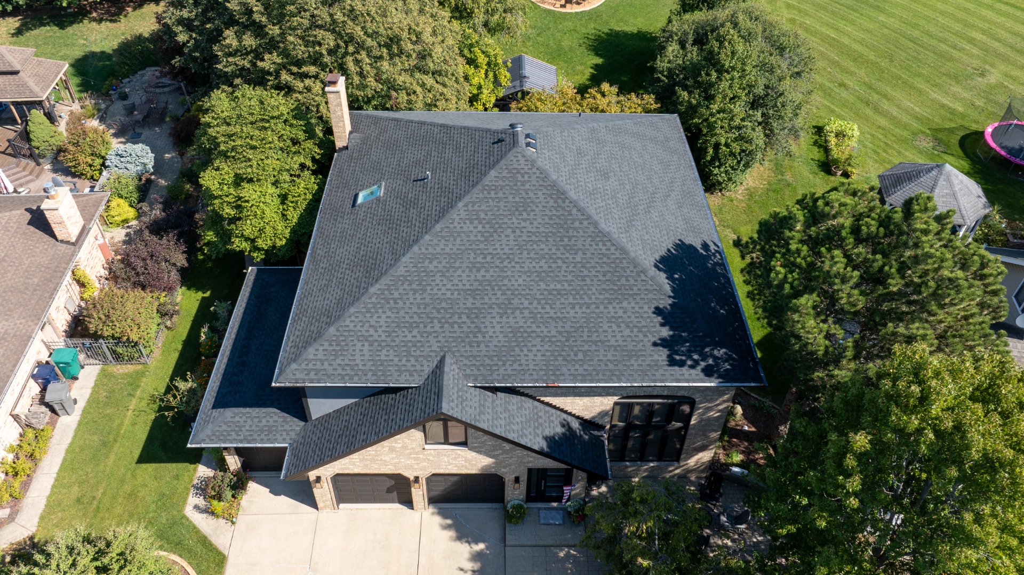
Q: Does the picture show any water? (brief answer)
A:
No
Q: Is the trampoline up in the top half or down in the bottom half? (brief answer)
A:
top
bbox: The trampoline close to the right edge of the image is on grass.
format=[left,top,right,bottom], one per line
[978,91,1024,184]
